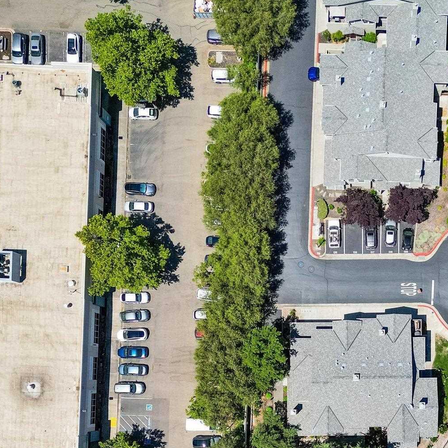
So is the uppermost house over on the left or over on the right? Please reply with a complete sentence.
The uppermost house sits on the right side.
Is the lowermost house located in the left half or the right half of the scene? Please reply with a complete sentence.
The lowermost house sits on the right side.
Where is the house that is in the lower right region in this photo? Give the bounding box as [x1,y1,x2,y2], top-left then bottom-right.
[287,313,438,448]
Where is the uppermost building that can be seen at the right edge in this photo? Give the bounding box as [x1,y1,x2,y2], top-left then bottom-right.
[320,0,448,192]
